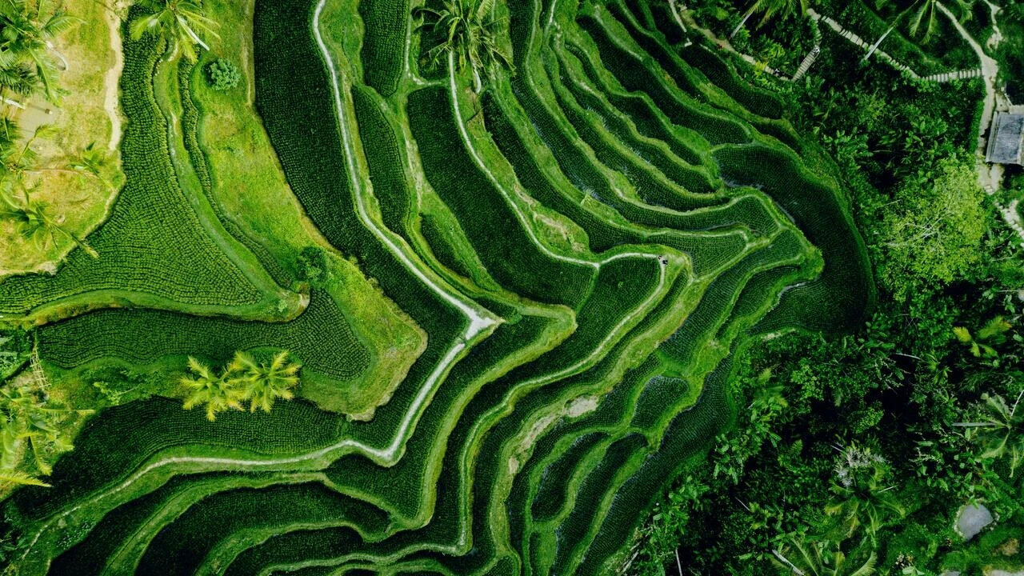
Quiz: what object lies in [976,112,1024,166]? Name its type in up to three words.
shed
